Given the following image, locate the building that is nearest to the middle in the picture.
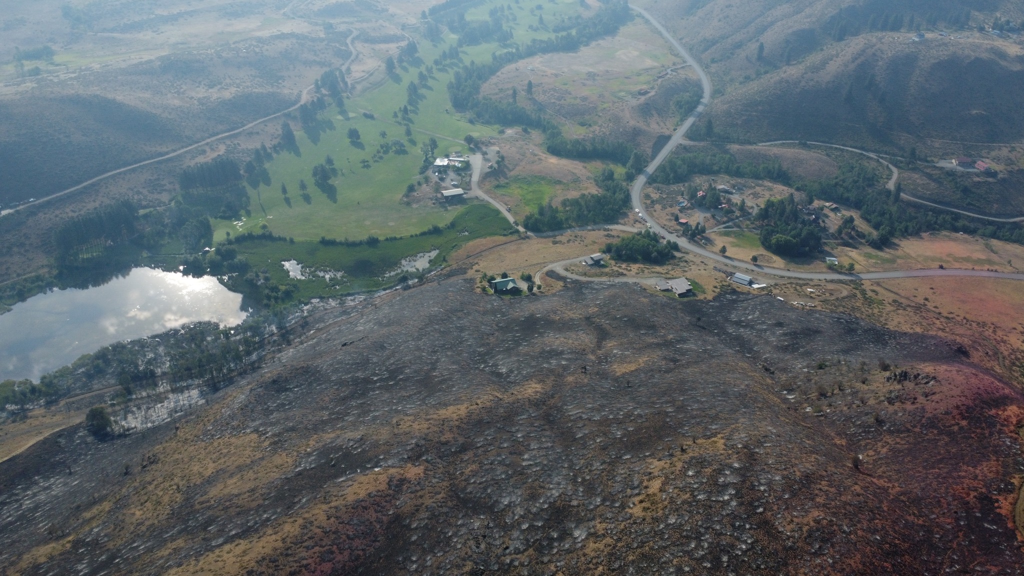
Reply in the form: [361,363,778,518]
[491,277,522,296]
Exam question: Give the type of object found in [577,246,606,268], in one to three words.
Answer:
house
